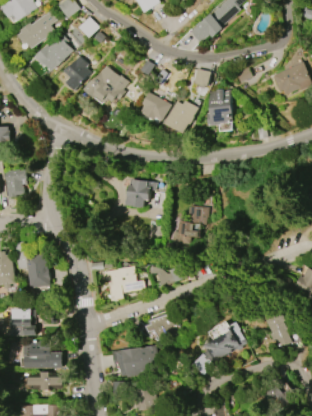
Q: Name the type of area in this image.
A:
residential area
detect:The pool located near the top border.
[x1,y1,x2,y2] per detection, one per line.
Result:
[252,12,272,35]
